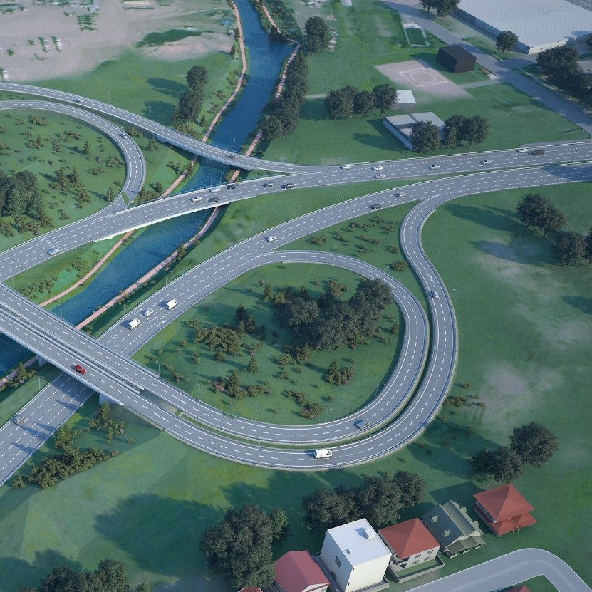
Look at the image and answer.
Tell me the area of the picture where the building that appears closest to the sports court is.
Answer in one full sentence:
The building that appears closest to the sports court sits in the top right section of the image.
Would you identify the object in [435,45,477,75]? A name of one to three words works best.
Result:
building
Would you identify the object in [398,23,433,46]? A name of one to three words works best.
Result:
sports court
